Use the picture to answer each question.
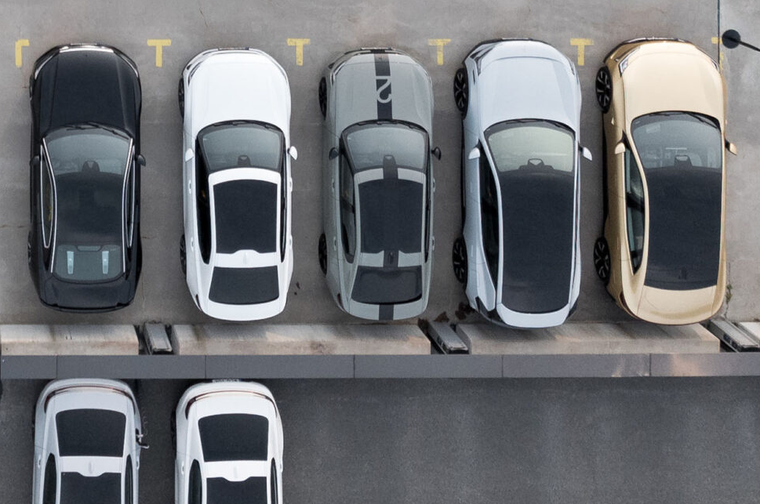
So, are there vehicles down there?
Yes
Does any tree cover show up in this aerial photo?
No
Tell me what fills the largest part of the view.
paved ground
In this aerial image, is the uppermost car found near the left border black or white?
black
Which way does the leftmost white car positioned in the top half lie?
from top to bottom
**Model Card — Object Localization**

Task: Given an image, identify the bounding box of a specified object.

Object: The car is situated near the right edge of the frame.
[594,36,736,324]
